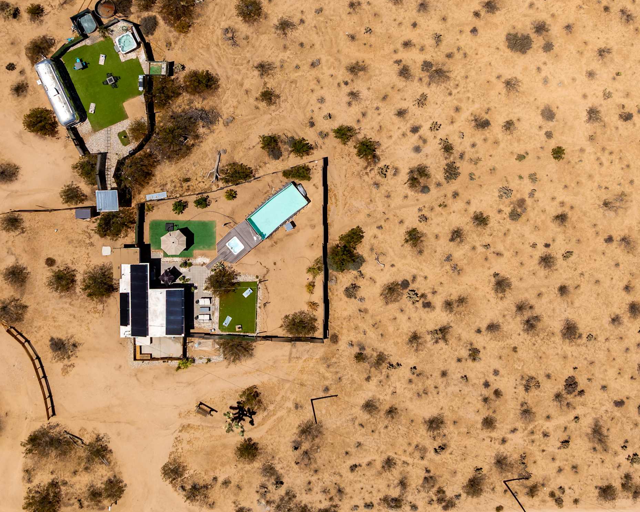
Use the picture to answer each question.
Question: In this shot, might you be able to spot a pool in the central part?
Yes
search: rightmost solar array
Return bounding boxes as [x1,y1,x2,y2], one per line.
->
[166,290,184,335]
